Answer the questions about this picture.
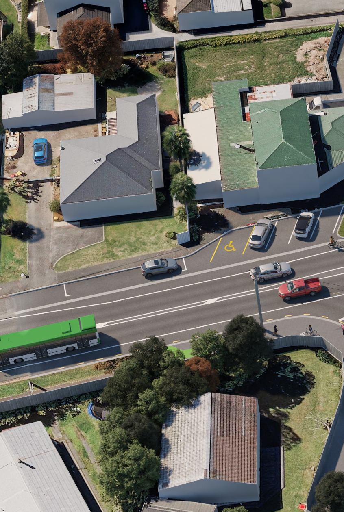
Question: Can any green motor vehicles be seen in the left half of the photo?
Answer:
Yes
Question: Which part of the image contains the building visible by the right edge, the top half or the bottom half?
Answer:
top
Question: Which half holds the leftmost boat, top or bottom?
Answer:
top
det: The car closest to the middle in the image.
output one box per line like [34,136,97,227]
[138,257,179,278]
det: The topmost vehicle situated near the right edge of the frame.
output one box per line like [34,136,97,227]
[308,92,344,111]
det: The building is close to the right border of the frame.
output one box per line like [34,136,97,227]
[213,77,344,206]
